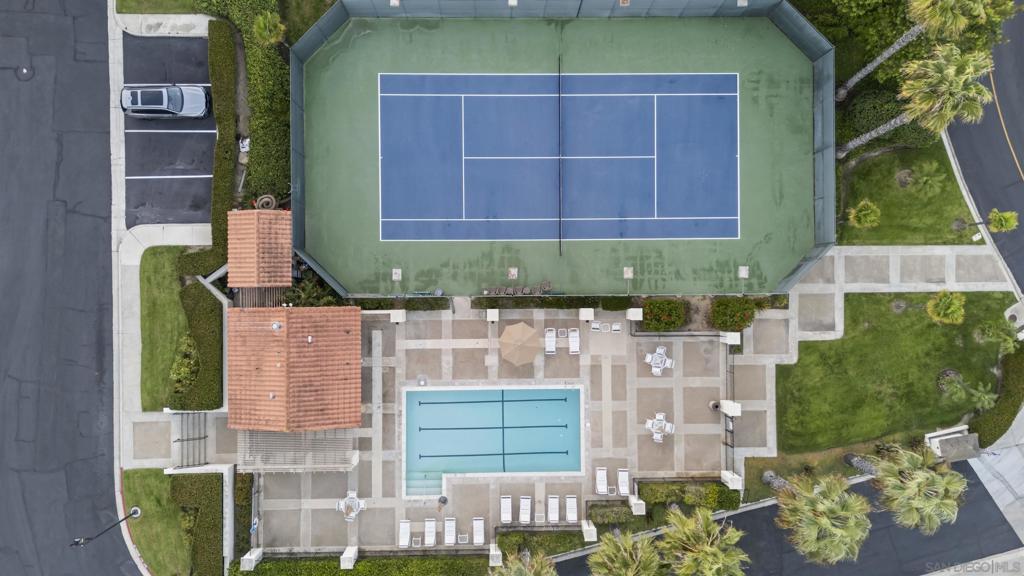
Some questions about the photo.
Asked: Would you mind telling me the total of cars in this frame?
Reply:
1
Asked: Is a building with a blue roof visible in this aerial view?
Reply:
No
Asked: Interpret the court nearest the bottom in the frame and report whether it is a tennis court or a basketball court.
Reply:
tennis court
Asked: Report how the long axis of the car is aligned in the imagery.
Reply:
horizontally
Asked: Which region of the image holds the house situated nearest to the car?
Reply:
left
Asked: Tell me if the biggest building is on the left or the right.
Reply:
left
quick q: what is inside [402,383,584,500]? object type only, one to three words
swimming pool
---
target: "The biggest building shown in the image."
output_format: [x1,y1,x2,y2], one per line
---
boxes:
[227,303,365,436]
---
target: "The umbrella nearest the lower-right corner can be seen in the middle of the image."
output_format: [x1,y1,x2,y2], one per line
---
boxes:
[500,324,539,362]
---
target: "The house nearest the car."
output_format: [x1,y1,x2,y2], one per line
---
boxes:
[227,208,302,289]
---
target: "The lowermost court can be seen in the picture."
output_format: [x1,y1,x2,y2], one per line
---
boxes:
[305,16,814,295]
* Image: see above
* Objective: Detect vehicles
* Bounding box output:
[121,83,214,120]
